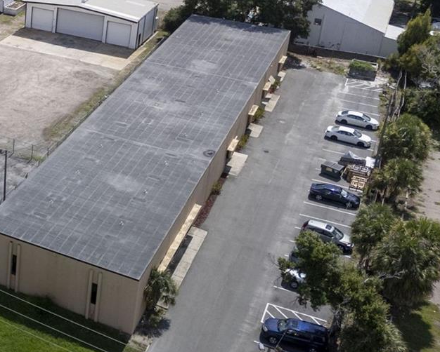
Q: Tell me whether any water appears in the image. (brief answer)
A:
No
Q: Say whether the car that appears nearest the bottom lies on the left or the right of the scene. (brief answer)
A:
right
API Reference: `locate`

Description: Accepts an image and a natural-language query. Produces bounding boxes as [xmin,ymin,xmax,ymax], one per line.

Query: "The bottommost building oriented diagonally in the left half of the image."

[0,14,291,333]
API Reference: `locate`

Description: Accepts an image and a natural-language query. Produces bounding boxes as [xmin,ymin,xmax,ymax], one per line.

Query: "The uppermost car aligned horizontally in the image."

[337,110,379,128]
